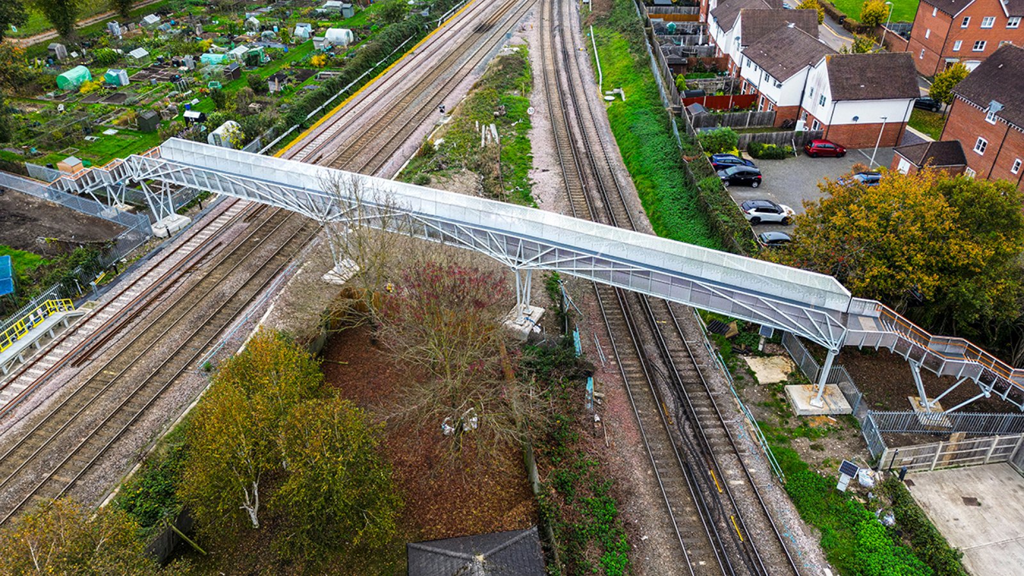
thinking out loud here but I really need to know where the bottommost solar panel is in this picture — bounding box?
[838,456,863,490]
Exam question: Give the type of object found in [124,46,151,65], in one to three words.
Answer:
greenhouse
